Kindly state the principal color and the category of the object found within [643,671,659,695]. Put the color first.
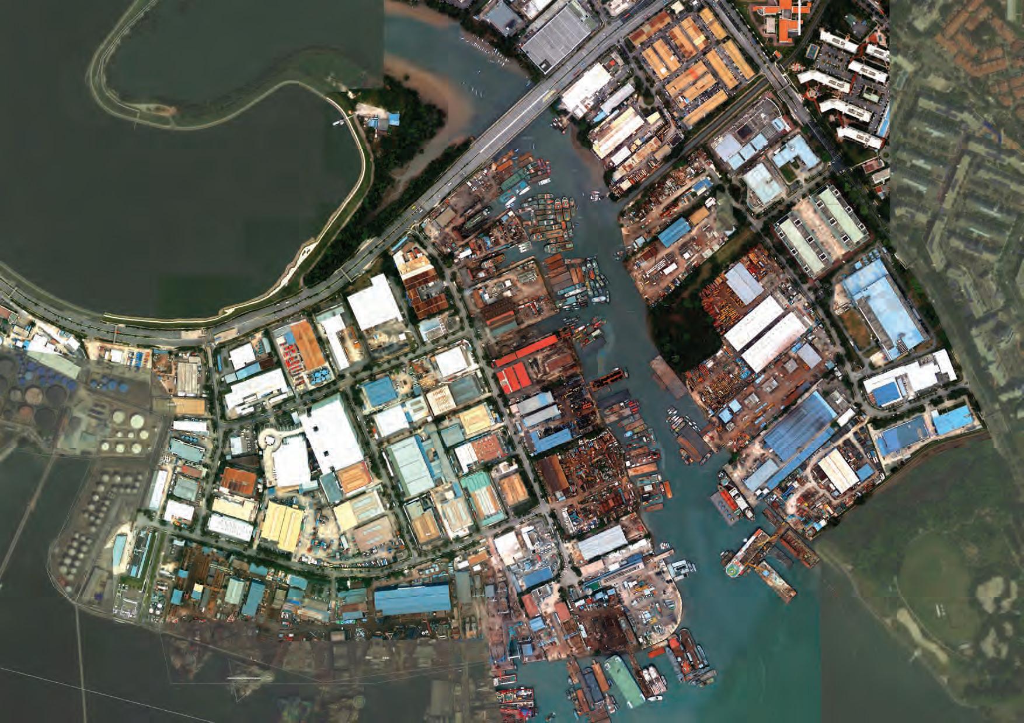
white ship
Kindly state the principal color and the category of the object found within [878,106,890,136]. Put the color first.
blue swimming pool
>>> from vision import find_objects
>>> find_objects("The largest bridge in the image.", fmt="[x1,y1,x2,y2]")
[468,76,559,165]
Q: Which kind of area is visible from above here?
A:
port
